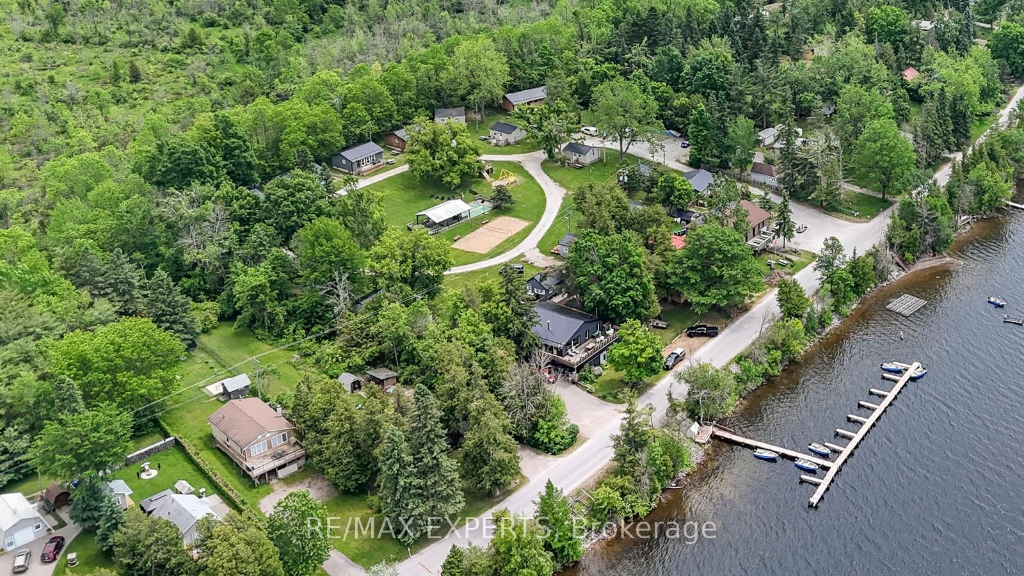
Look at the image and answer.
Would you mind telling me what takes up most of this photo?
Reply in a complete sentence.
The scene is dominated by trees.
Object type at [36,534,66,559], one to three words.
car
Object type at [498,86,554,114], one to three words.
house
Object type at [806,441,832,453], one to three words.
boat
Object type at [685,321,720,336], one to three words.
vehicle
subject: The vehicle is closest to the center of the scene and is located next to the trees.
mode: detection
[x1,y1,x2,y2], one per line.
[504,259,535,274]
